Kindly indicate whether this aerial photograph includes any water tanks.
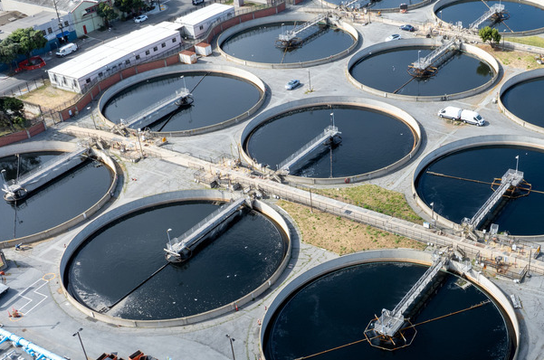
Yes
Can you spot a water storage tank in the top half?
Yes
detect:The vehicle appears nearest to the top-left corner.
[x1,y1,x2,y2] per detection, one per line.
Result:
[58,43,71,57]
